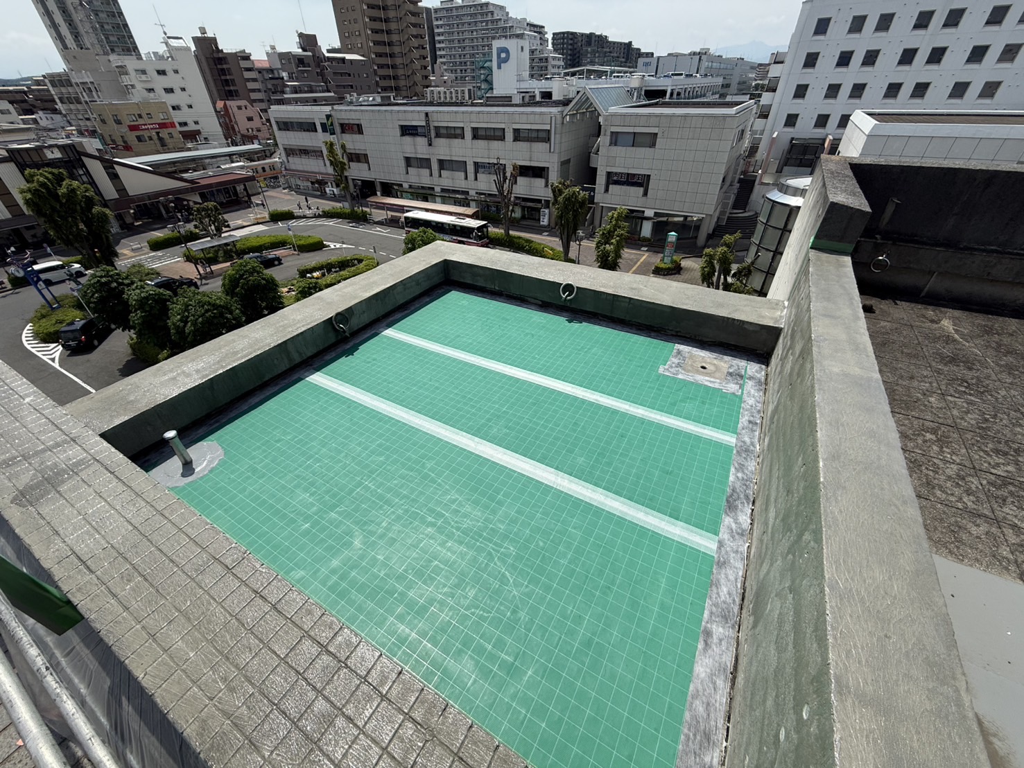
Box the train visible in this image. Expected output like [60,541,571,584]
[237,158,287,178]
